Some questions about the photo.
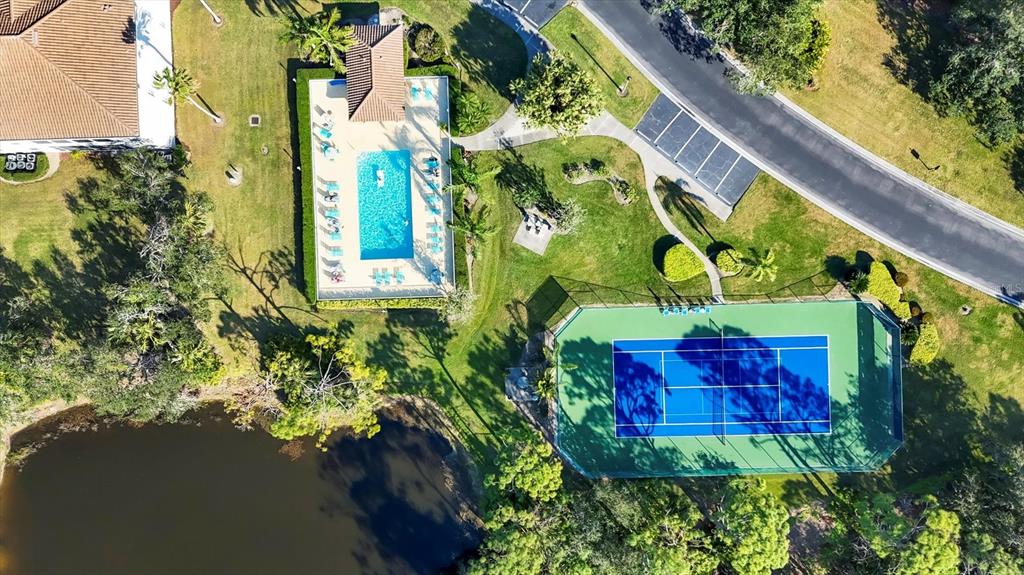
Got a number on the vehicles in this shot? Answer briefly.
0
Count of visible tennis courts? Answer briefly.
one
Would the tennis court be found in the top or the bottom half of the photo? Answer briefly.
bottom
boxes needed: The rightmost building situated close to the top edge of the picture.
[346,23,406,125]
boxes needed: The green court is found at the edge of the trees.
[558,303,888,469]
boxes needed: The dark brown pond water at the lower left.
[0,397,489,575]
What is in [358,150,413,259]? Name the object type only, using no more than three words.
swimming pool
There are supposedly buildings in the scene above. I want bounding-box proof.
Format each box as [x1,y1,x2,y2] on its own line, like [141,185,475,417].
[0,0,173,151]
[346,23,406,125]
